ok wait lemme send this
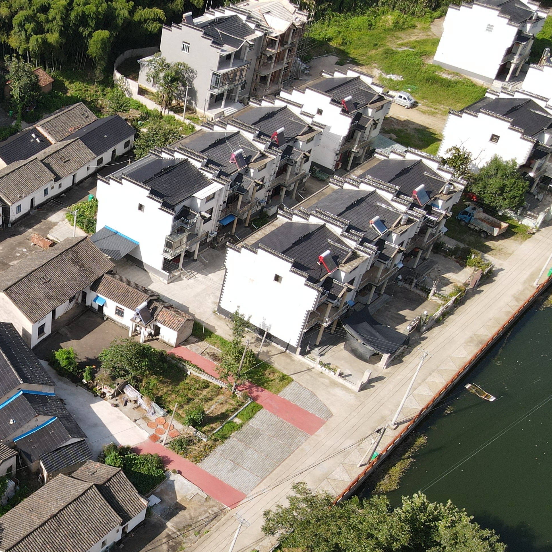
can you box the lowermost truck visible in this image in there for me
[455,204,510,235]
